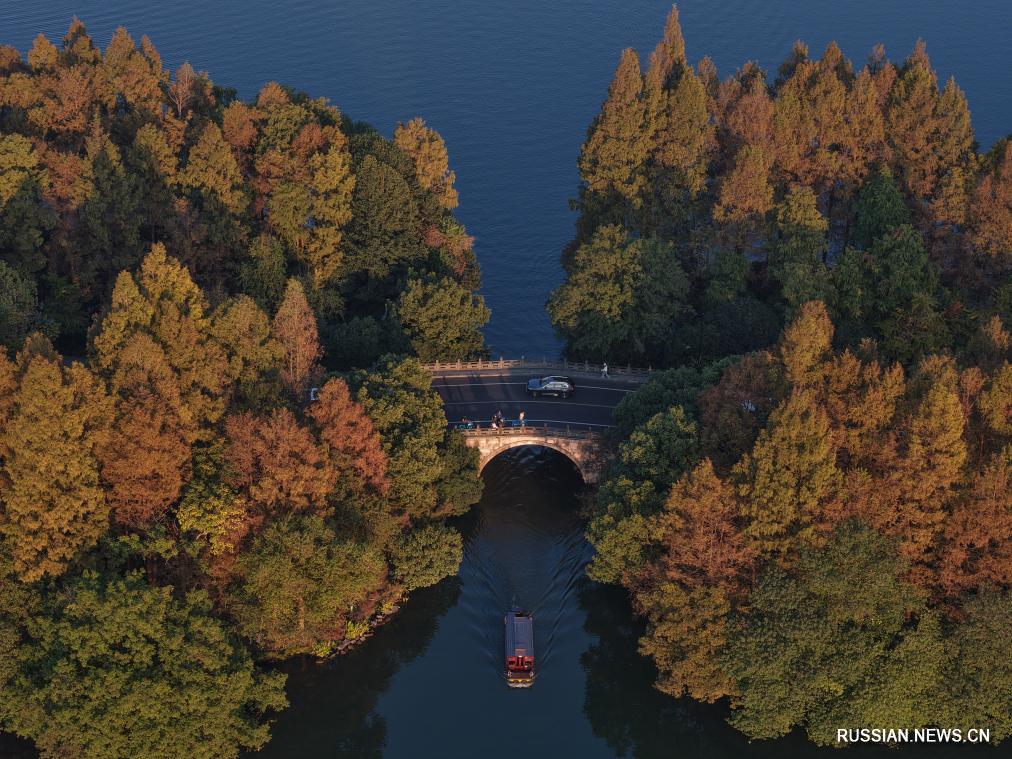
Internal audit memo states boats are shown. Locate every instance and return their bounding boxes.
[504,606,532,687]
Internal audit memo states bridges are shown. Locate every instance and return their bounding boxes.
[366,355,703,480]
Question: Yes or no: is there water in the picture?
Yes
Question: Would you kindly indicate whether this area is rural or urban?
rural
